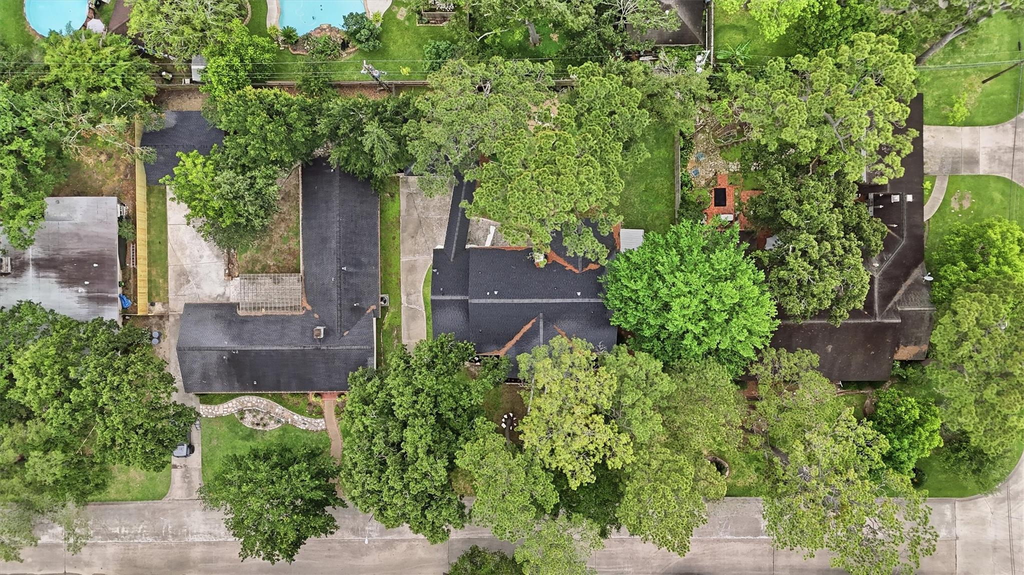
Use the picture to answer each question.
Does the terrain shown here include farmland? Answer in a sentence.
No, the scene doesn't show any farmland.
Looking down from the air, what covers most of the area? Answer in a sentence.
What you mostly see from above here is trees.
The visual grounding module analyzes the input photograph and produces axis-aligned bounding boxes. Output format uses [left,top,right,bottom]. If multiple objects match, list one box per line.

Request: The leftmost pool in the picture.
[24,0,88,35]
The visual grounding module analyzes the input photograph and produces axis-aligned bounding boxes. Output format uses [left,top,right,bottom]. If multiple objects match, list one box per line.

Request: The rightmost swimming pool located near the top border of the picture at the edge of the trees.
[274,0,371,37]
